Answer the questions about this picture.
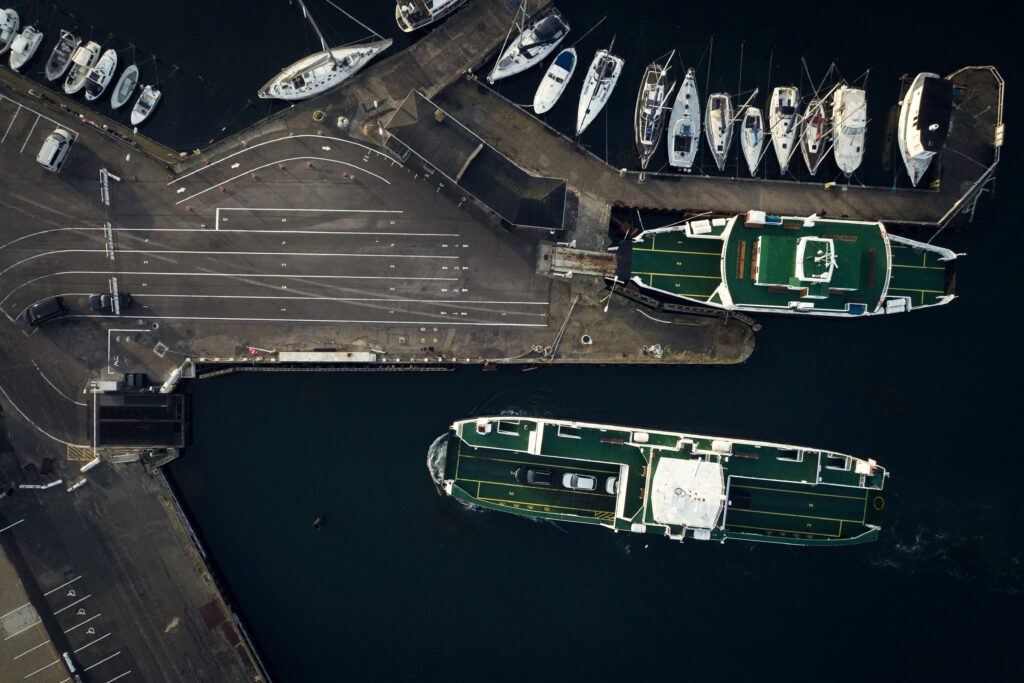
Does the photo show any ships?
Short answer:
Yes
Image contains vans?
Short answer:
Yes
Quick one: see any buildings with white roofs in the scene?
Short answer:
No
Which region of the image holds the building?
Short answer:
top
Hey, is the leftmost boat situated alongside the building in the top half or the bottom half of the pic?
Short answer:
top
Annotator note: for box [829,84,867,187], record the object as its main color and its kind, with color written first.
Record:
white boat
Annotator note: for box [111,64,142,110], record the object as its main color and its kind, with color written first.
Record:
gray boat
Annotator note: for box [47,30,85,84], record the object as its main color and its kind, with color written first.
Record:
gray boat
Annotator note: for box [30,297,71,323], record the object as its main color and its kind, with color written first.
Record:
black car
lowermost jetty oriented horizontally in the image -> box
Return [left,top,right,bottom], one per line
[201,365,456,379]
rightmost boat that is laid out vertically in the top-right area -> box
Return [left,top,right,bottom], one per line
[897,73,953,189]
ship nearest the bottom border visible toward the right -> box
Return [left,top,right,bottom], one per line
[445,416,888,546]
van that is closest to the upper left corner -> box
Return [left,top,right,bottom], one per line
[38,133,74,173]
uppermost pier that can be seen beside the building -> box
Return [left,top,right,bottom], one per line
[356,0,572,86]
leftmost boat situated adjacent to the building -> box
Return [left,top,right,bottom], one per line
[254,0,392,101]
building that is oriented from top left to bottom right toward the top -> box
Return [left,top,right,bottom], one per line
[385,90,567,235]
